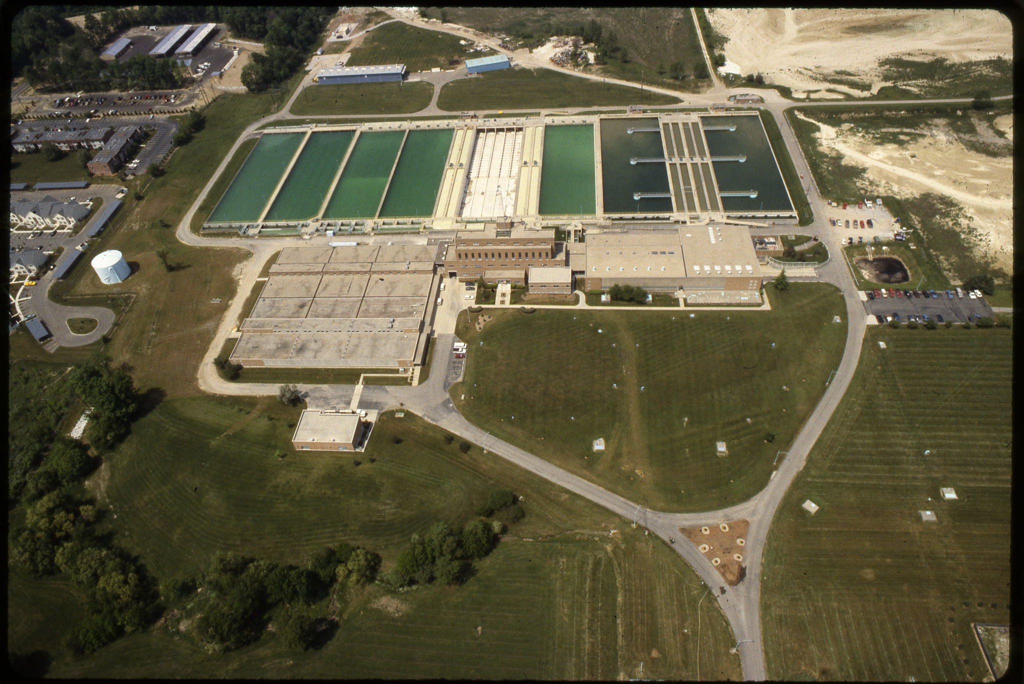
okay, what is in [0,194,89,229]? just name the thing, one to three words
house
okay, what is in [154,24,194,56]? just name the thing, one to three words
shed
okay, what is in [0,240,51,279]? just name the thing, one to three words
house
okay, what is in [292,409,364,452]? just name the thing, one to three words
building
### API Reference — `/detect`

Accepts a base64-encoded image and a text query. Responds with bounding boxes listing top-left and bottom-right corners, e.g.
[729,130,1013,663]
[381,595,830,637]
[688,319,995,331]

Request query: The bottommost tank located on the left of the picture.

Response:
[94,248,135,286]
